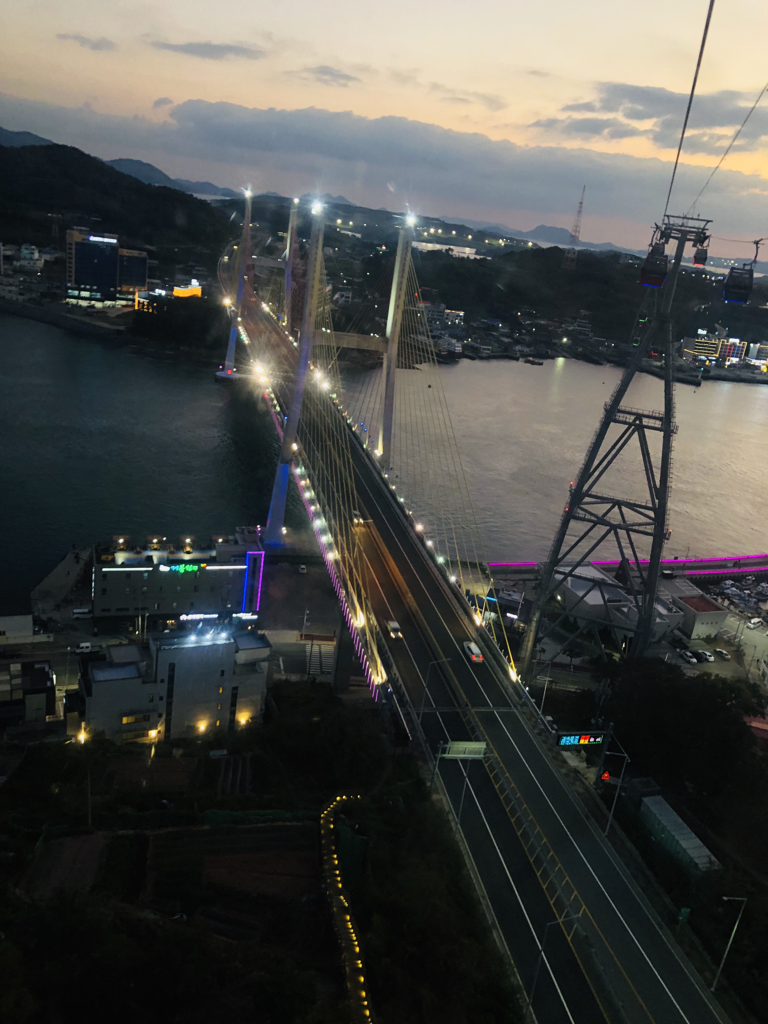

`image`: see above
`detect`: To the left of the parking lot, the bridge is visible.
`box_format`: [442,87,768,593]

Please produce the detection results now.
[217,193,538,721]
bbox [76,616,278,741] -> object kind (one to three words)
house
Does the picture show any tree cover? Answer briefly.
Yes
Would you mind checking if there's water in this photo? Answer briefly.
Yes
